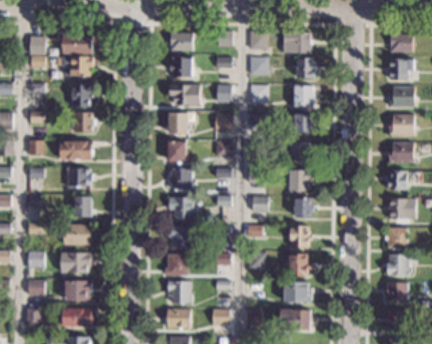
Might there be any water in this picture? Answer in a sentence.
No, the scene doesn't show any water.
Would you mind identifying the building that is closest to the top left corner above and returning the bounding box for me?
[30,36,48,55]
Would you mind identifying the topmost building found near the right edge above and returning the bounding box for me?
[390,34,416,54]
